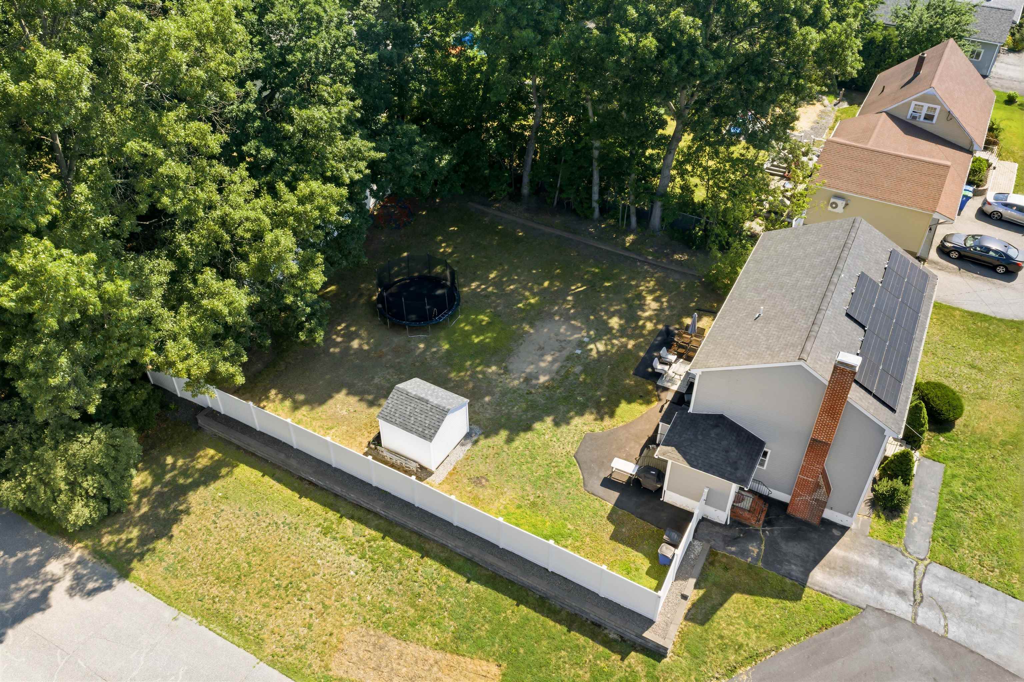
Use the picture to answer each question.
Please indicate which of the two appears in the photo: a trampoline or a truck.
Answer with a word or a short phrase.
trampoline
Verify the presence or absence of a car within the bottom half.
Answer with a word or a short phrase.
No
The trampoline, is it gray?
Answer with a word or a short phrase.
No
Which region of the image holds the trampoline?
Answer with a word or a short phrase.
center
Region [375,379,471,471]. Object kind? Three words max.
shed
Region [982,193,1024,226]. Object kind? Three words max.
car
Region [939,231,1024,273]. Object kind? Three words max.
car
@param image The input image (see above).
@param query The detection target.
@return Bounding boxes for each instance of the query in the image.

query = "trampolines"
[372,250,462,338]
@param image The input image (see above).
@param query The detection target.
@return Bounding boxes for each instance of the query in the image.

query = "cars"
[982,193,1024,226]
[939,231,1024,273]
